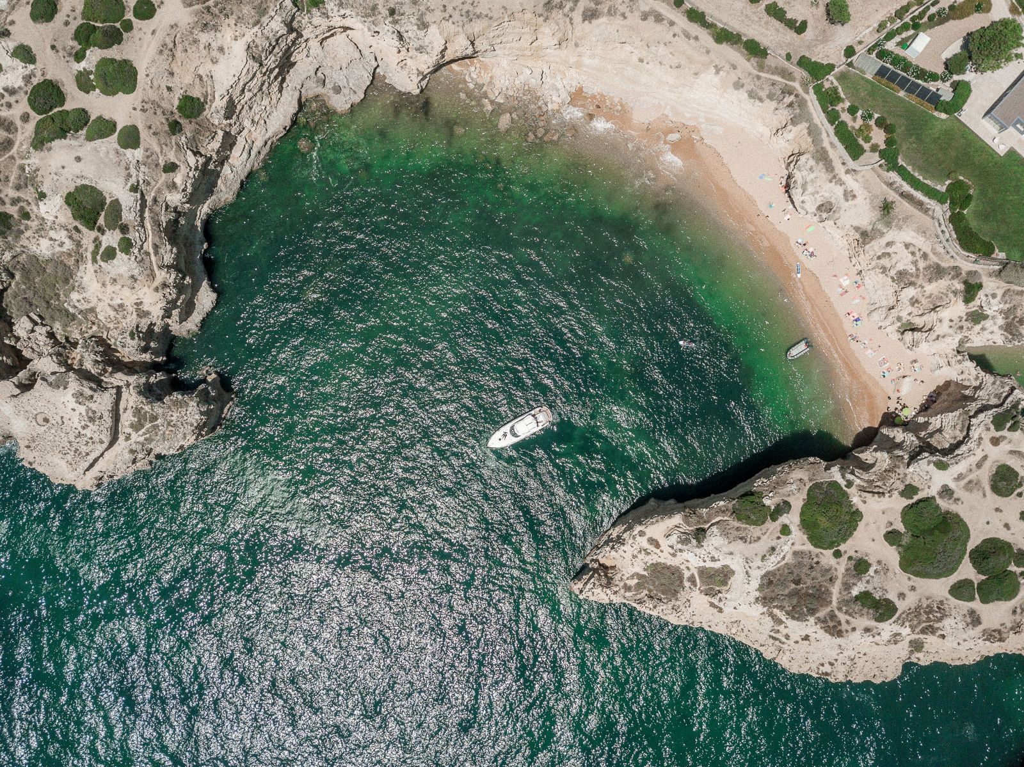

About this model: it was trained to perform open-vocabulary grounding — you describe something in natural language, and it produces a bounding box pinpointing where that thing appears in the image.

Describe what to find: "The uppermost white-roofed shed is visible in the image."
[902,32,931,63]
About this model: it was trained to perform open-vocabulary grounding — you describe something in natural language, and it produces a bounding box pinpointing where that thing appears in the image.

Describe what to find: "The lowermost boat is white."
[487,406,553,447]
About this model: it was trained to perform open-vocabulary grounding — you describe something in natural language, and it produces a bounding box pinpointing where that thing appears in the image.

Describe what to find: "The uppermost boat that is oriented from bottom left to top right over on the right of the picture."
[788,340,811,358]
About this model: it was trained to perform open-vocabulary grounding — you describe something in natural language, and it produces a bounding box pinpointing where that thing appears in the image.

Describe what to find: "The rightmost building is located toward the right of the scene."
[985,75,1024,152]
